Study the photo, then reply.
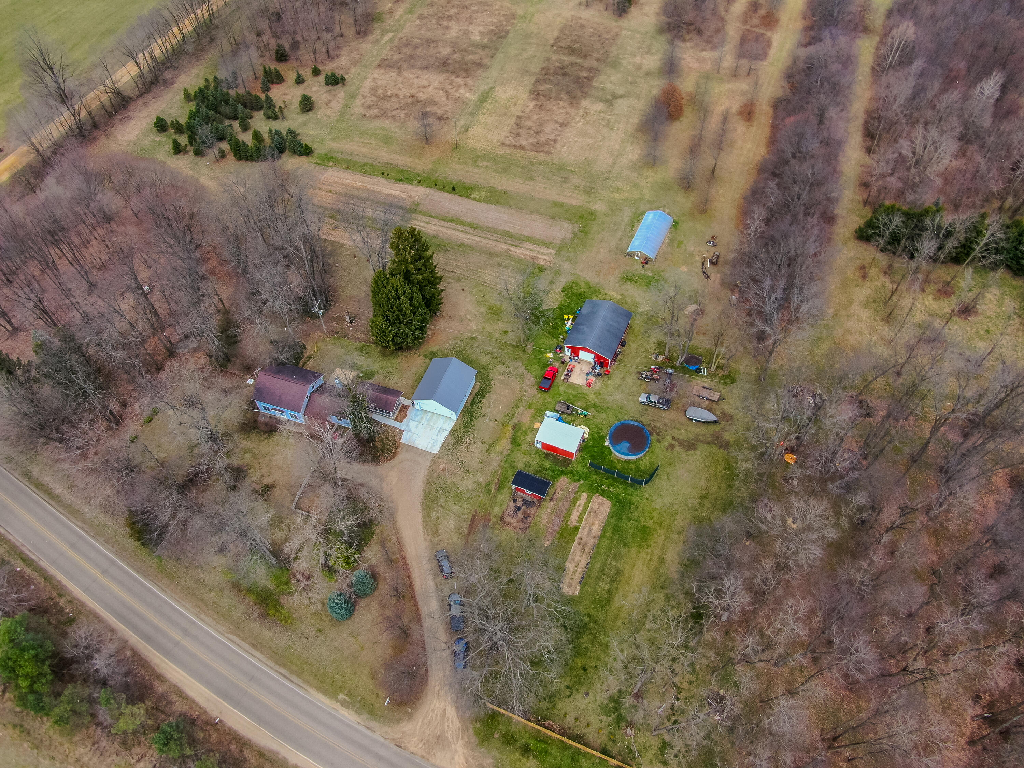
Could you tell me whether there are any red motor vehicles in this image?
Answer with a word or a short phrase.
Yes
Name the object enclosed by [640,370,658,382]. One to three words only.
vehicle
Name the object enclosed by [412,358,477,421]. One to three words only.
building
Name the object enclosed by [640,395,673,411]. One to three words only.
vehicle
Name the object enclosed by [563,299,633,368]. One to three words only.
barn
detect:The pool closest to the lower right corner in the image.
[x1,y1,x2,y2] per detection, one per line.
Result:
[608,420,651,460]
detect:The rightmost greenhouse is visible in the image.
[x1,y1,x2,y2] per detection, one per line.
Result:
[626,211,672,265]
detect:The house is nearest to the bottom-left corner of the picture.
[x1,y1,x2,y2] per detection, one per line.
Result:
[252,361,403,440]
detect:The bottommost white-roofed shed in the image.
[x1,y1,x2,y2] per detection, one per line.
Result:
[536,418,584,458]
